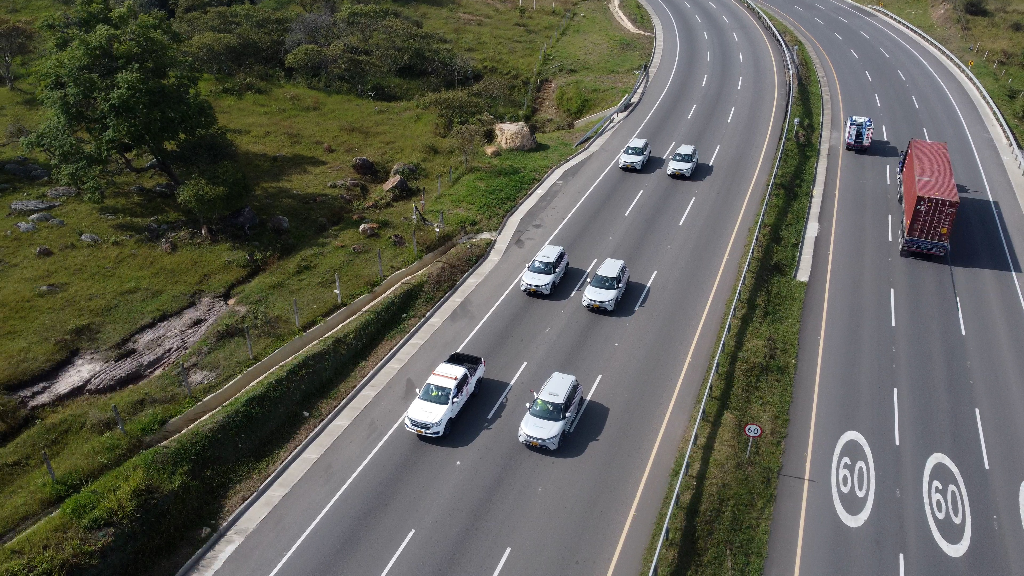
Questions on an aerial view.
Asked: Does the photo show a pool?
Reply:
No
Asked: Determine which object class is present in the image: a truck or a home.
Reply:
truck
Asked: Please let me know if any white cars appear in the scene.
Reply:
Yes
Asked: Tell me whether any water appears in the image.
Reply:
No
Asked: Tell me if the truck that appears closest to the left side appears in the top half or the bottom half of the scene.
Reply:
bottom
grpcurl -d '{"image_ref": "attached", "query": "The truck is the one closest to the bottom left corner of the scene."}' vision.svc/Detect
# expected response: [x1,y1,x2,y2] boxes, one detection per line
[405,354,486,440]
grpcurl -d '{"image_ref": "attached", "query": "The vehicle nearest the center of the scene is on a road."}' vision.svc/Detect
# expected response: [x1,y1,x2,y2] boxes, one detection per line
[522,243,570,296]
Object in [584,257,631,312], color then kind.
white car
